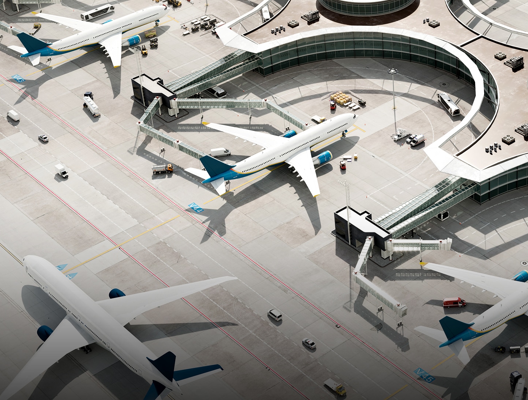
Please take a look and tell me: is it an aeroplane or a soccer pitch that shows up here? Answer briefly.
aeroplane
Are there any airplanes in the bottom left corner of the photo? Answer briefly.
Yes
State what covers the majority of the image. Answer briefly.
paved ground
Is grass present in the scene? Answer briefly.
No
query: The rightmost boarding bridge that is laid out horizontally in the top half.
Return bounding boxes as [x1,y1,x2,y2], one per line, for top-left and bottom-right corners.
[169,96,317,132]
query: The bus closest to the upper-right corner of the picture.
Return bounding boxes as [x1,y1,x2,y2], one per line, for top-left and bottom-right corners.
[436,95,460,119]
